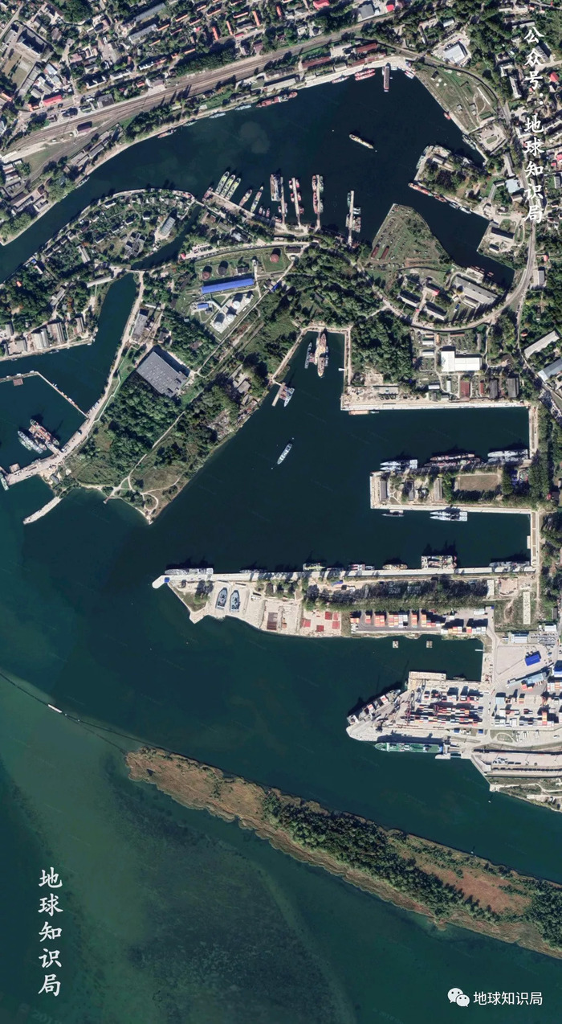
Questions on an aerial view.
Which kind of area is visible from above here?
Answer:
port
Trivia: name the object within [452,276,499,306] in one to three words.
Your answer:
building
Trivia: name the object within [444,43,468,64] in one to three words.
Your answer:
building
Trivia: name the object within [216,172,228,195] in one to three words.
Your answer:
ship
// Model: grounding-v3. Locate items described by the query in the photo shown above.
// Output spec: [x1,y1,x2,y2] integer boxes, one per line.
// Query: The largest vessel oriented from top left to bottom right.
[31,420,59,446]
